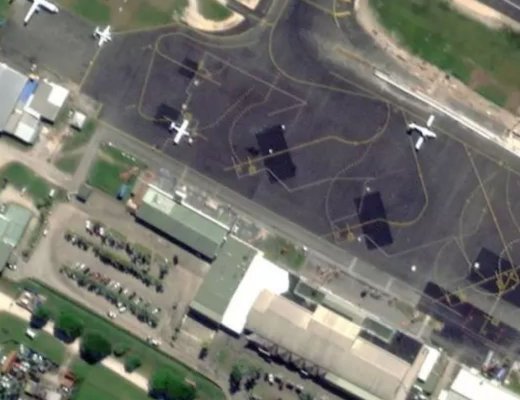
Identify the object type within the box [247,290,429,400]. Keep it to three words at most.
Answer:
building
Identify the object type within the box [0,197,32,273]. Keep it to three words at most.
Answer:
building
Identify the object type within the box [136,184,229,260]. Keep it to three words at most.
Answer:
hangar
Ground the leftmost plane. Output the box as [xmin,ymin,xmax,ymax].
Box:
[21,0,57,22]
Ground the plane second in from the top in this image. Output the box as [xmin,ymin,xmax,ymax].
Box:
[94,25,111,46]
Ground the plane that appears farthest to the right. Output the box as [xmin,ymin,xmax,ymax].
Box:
[409,115,437,150]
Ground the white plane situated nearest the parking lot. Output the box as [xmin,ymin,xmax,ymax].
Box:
[169,119,190,143]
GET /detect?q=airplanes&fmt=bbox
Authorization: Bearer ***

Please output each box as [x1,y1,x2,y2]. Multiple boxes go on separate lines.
[409,115,437,150]
[169,119,190,143]
[21,0,57,22]
[94,25,111,46]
